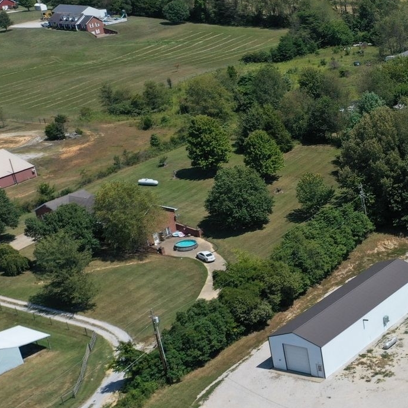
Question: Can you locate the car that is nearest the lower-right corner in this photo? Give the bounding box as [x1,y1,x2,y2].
[195,250,217,262]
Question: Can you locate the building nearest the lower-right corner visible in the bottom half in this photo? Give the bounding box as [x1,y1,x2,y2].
[267,258,408,377]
